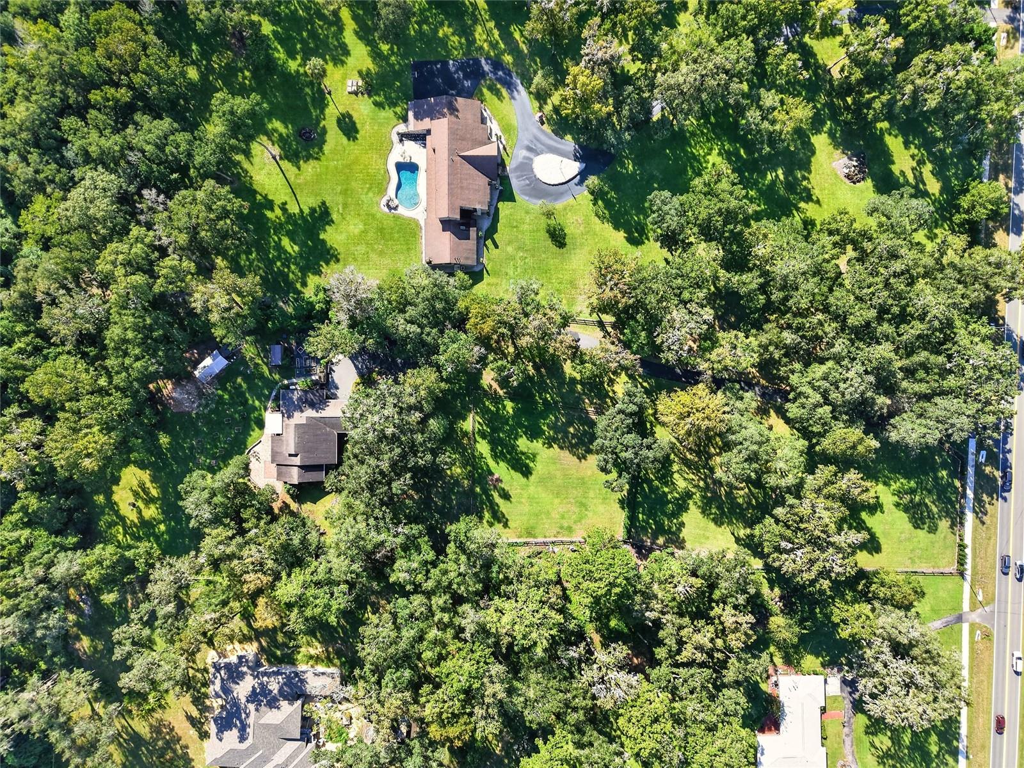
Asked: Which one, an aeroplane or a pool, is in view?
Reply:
pool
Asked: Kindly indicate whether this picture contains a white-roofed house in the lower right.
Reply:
Yes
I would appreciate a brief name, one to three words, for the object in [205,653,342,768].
house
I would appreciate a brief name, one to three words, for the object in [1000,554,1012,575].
vehicle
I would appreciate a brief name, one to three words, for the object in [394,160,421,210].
swimming pool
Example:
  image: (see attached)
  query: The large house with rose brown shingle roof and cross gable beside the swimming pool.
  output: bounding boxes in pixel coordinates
[408,95,497,265]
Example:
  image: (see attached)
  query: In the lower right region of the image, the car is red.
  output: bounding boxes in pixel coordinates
[994,714,1006,733]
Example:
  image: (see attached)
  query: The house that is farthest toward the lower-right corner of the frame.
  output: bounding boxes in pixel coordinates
[754,671,827,768]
